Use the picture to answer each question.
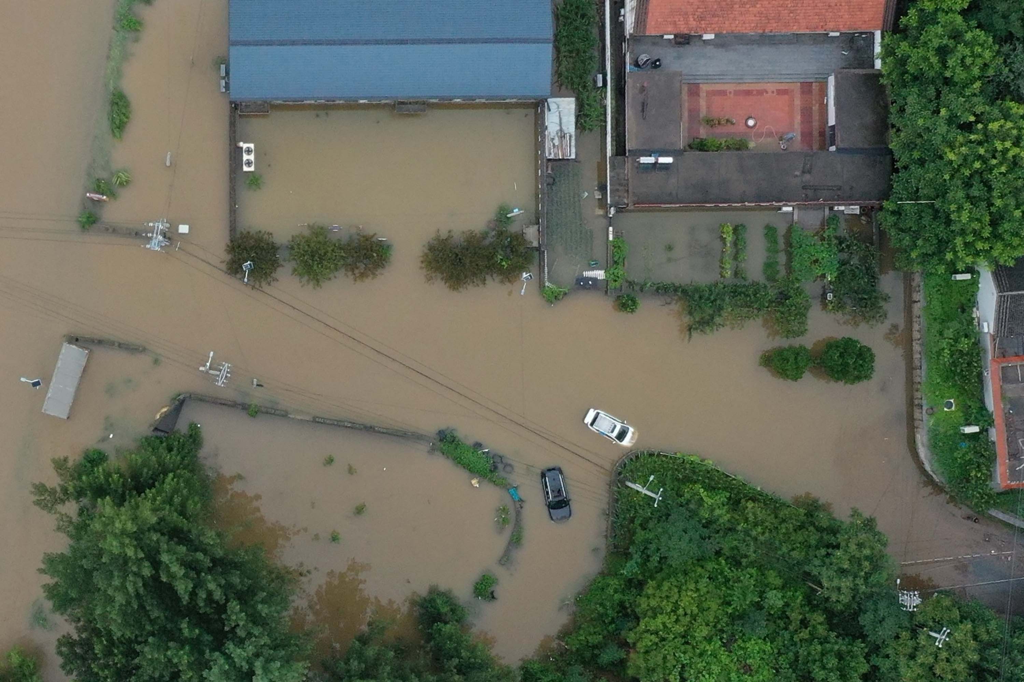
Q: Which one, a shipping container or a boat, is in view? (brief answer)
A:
shipping container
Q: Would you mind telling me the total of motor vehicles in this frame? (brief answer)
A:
2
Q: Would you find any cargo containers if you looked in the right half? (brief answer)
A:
No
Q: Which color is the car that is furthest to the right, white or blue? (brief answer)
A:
white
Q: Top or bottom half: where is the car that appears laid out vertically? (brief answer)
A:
bottom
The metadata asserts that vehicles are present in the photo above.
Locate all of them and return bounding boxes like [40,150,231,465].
[584,410,638,447]
[542,465,572,521]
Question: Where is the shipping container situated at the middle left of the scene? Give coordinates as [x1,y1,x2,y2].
[41,342,92,420]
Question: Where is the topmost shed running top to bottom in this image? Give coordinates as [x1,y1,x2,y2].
[546,98,575,164]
